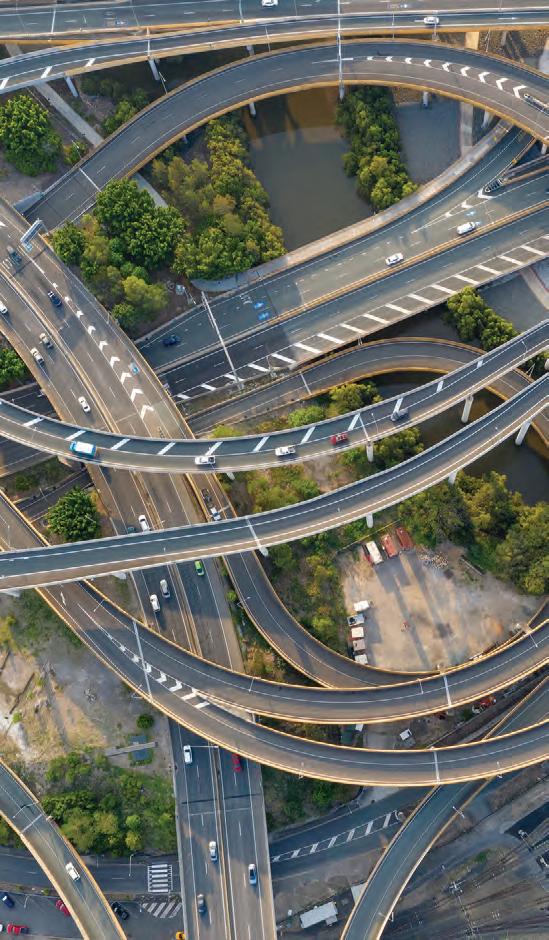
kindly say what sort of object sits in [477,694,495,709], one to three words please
car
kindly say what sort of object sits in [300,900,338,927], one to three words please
shed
